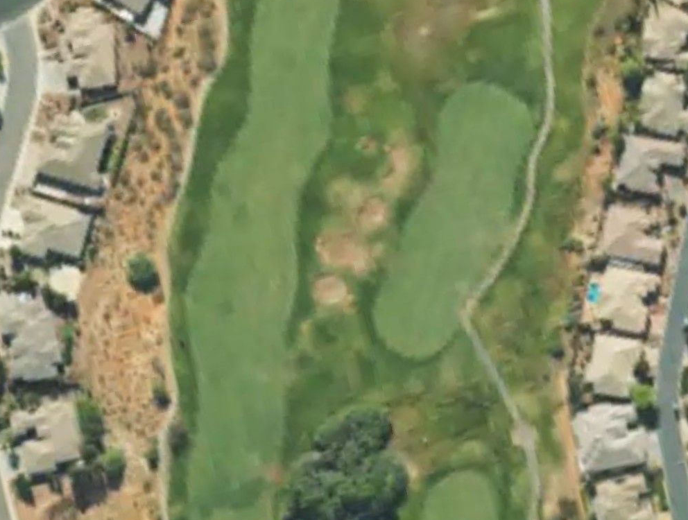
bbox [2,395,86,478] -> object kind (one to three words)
house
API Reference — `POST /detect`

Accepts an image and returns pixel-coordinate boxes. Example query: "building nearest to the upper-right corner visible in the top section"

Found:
[639,0,688,60]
